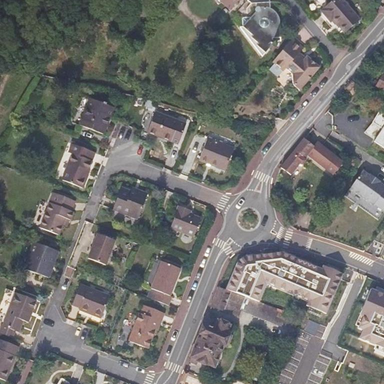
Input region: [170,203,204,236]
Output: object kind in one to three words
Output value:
house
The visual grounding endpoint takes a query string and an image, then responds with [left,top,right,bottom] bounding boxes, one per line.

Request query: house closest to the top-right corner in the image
[322,0,362,34]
